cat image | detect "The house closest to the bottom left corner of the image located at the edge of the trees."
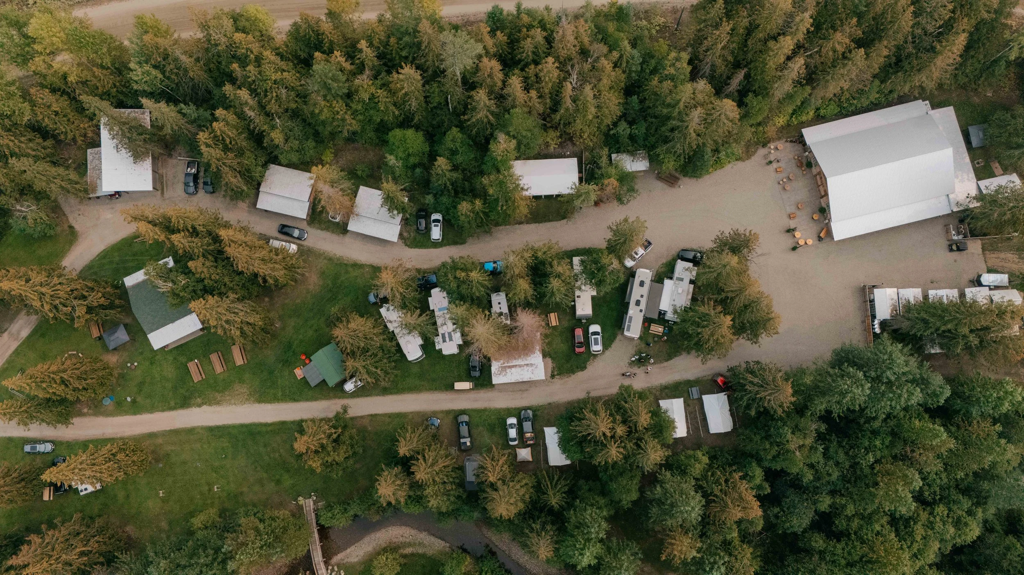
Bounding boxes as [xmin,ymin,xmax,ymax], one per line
[124,257,208,351]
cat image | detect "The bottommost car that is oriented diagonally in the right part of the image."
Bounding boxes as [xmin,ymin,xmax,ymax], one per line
[709,368,734,394]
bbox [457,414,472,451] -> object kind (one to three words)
vehicle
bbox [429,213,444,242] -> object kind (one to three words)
car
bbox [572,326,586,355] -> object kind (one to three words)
car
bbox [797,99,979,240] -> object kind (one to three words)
building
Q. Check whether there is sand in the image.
No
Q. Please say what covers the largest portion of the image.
trees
